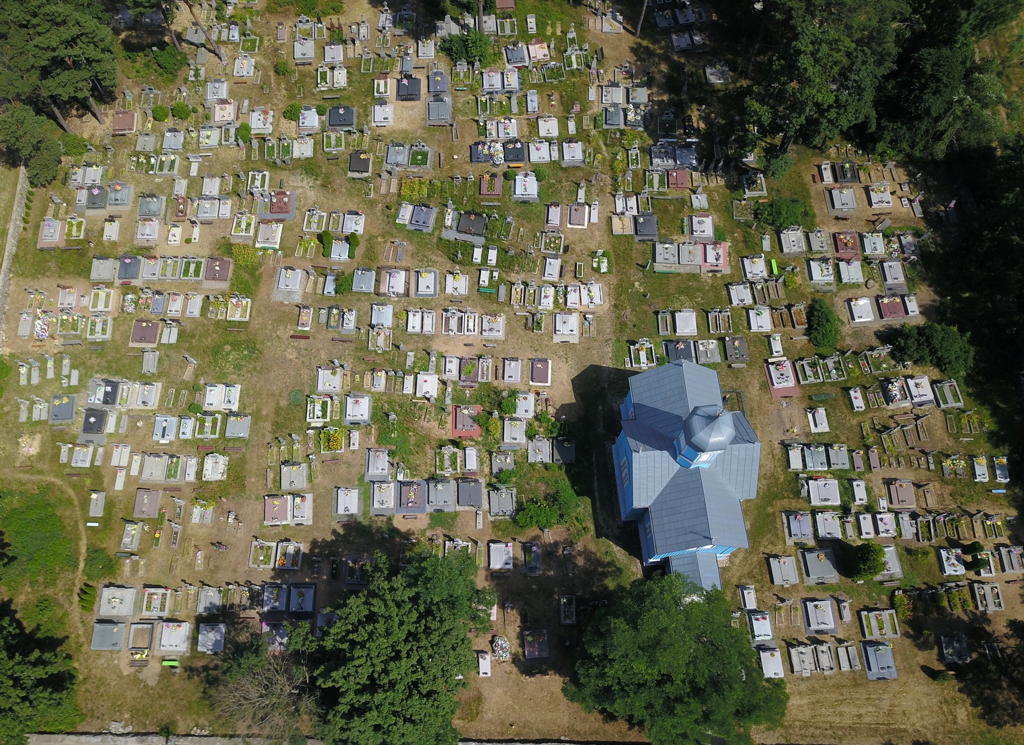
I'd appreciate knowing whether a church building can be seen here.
Yes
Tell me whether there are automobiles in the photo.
No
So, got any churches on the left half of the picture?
No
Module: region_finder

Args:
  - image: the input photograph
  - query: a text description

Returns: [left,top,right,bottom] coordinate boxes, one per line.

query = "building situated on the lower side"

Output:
[612,357,761,610]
